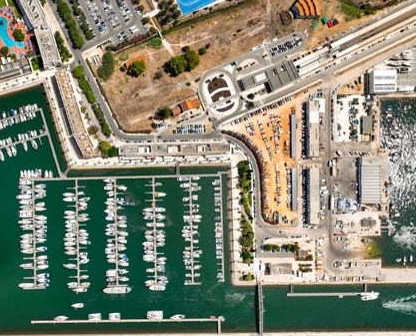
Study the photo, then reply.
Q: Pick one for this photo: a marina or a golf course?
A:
marina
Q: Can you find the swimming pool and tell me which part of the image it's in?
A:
top left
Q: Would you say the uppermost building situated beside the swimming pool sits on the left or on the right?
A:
left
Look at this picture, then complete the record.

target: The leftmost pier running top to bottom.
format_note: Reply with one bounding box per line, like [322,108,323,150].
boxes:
[22,180,45,289]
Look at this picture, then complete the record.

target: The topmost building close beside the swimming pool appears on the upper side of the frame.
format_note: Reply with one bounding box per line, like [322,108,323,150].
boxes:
[22,0,53,32]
